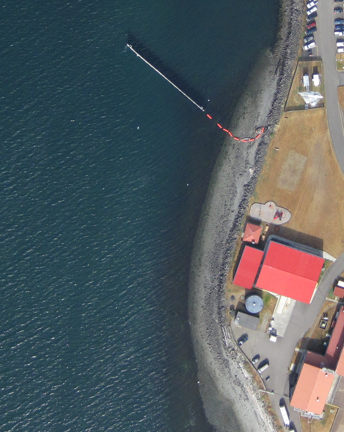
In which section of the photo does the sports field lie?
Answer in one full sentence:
Look in the right portion of the view to spot the sports field.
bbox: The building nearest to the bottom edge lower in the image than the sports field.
[289,364,335,422]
